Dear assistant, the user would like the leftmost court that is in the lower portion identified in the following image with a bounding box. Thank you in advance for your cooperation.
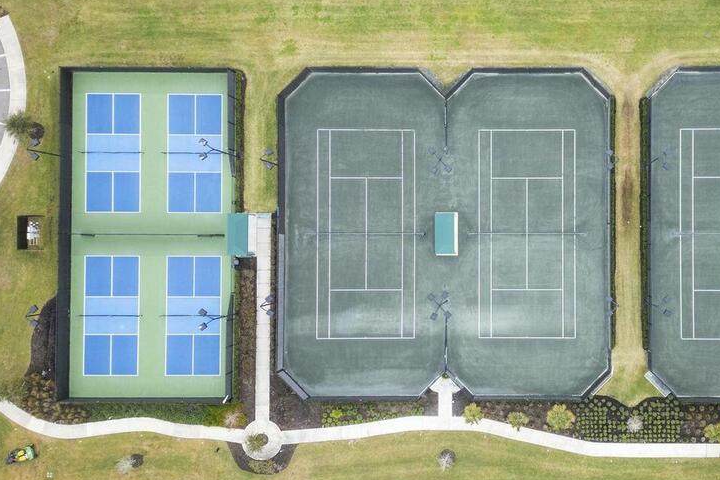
[68,235,154,398]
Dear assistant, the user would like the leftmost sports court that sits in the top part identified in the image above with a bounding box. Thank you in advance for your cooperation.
[70,71,154,234]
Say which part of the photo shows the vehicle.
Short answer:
bottom left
